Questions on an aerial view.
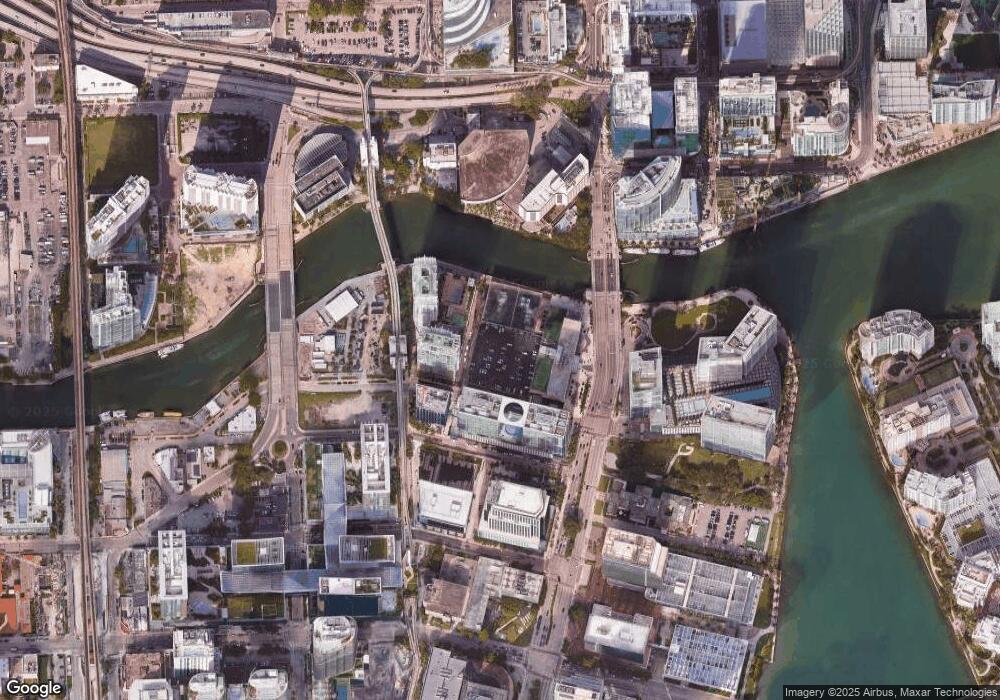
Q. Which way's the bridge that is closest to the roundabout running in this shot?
vertically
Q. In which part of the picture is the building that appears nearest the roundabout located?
left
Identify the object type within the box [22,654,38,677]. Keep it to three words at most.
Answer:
house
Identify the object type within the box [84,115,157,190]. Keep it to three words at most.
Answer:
sports field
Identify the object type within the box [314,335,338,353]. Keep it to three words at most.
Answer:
shed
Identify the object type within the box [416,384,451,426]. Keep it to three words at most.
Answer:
building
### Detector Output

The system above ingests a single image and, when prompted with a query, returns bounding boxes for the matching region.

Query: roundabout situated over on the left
[263,430,297,464]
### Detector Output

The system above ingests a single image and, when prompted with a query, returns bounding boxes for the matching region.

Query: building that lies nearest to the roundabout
[229,405,256,433]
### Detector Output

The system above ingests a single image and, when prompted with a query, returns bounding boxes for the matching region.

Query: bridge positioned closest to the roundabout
[260,244,295,352]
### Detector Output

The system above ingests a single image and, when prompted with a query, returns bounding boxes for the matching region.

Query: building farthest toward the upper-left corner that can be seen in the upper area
[34,54,60,71]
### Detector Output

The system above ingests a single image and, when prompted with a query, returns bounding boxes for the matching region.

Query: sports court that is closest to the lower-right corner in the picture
[744,518,771,552]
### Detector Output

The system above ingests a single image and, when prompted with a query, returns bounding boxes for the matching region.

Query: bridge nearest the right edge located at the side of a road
[587,248,624,307]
